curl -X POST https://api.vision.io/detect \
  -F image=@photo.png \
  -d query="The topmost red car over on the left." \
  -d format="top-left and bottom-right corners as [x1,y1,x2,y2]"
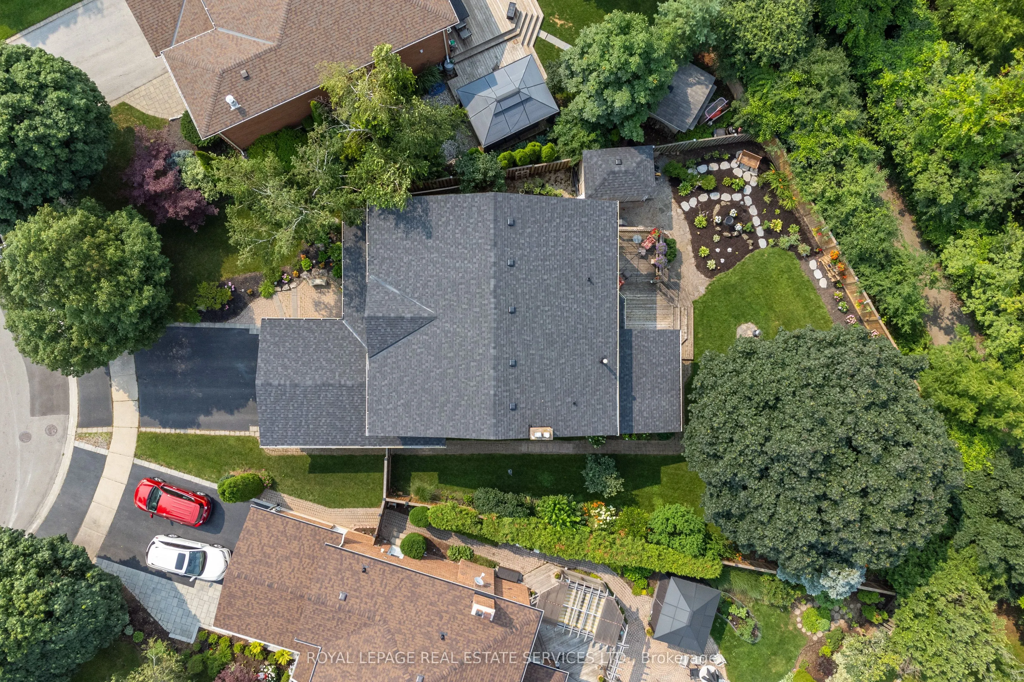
[133,476,216,528]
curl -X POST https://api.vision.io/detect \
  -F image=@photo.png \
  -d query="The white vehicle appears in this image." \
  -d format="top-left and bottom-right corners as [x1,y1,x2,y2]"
[144,532,231,583]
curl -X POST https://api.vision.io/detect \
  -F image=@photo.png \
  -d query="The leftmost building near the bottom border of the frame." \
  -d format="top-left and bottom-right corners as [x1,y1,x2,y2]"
[213,497,571,682]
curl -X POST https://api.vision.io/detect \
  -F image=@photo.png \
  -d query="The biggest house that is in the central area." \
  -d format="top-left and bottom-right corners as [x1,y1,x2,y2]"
[254,192,684,449]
